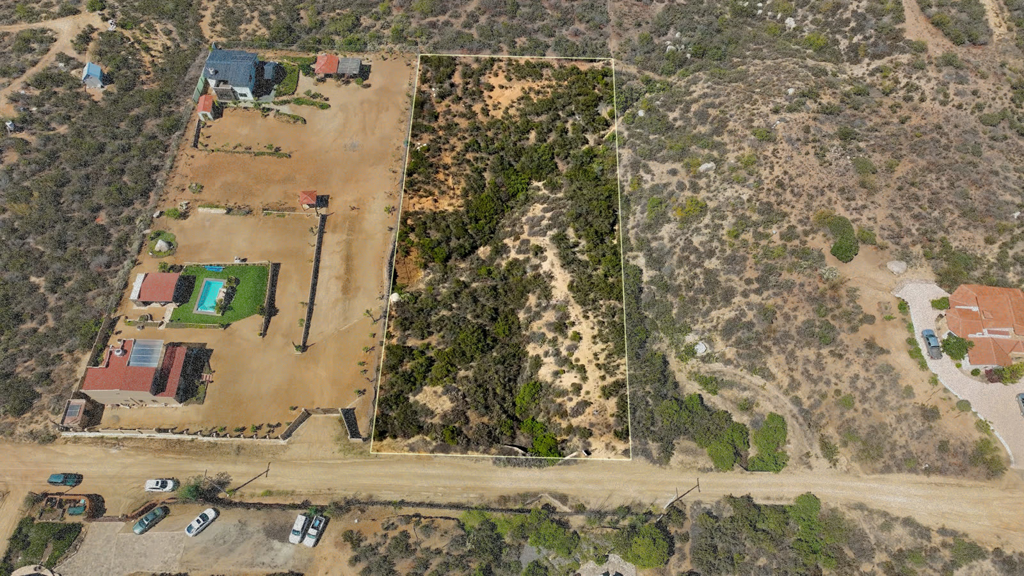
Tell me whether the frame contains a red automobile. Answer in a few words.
No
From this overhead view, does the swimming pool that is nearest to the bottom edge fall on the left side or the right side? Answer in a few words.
left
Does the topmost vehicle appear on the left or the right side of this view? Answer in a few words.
right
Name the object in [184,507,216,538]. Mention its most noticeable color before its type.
white car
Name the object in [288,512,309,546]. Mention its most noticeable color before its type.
white car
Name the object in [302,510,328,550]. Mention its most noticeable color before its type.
white truck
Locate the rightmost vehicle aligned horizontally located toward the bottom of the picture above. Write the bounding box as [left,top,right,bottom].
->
[141,477,175,492]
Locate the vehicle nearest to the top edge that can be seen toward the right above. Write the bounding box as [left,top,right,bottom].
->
[925,328,945,358]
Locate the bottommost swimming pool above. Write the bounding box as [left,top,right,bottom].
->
[193,278,226,316]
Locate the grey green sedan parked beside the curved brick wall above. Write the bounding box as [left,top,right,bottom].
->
[131,506,164,534]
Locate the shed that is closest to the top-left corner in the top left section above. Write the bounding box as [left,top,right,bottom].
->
[83,62,106,88]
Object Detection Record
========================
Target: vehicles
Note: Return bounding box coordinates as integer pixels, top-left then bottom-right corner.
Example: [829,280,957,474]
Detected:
[184,507,216,538]
[925,328,945,358]
[288,512,309,546]
[131,506,164,534]
[141,477,175,492]
[302,510,328,550]
[45,470,80,486]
